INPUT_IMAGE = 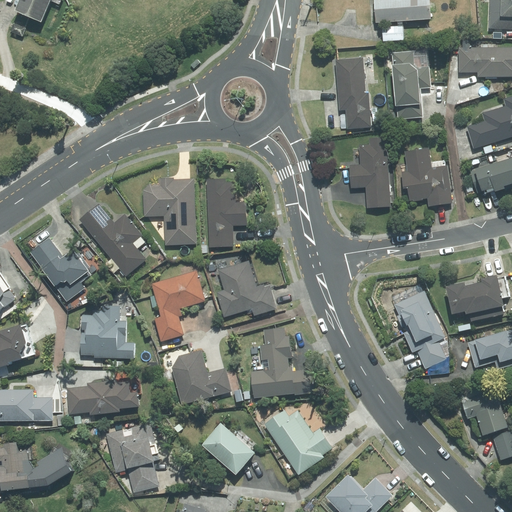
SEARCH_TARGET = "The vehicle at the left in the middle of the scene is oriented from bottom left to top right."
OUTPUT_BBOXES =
[34,231,50,243]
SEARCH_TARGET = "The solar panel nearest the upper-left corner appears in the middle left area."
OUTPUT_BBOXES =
[90,205,111,228]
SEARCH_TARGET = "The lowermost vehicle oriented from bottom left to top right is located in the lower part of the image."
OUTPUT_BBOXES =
[386,475,402,491]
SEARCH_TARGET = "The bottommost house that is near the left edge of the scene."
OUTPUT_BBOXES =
[0,442,74,490]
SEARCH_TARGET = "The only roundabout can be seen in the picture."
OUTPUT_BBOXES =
[220,76,266,122]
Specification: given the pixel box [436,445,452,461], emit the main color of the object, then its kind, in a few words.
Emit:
white car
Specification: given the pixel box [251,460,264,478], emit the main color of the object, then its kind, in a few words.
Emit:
gray vehicle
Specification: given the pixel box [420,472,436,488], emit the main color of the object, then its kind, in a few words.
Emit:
white vehicle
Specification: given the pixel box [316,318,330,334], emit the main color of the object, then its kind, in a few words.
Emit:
white vehicle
